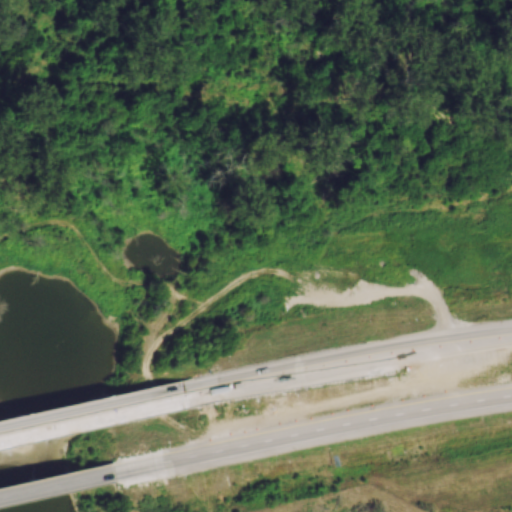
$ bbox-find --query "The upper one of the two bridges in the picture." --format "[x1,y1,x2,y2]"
[0,380,186,450]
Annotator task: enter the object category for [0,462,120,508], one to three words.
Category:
bridge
